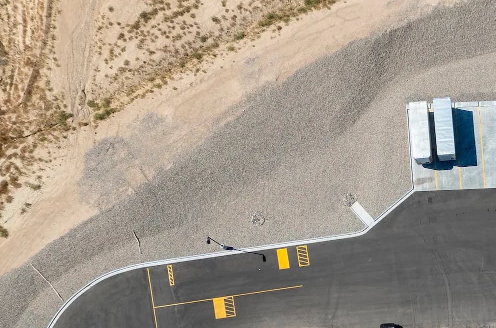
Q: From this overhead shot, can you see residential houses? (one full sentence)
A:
No, the scene contains no residential house.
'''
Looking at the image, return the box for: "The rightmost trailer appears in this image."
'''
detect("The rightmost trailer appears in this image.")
[434,96,456,164]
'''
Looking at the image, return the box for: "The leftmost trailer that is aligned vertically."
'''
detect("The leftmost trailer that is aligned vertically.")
[409,100,433,166]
